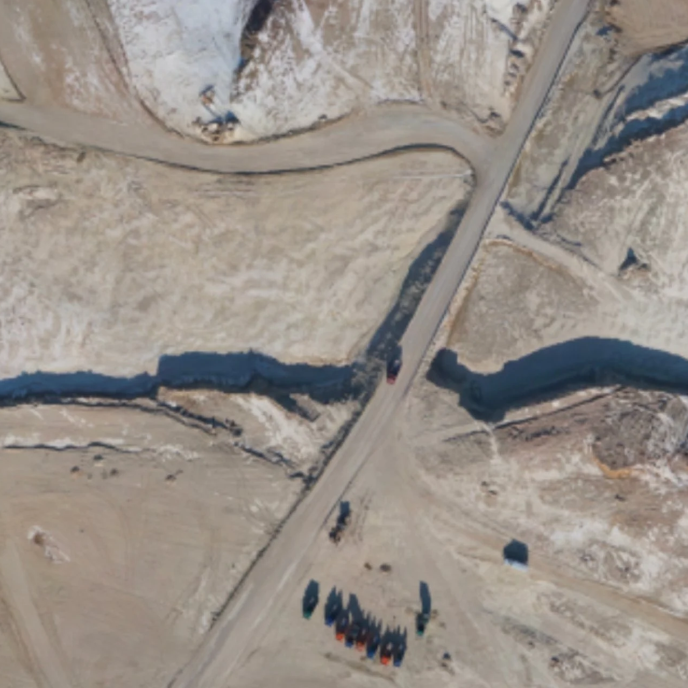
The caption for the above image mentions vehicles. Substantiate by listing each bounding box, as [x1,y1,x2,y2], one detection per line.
[326,601,340,628]
[335,617,349,642]
[382,642,395,668]
[393,643,407,669]
[302,595,318,621]
[346,619,360,649]
[367,634,381,660]
[333,522,348,546]
[388,360,402,386]
[356,628,369,654]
